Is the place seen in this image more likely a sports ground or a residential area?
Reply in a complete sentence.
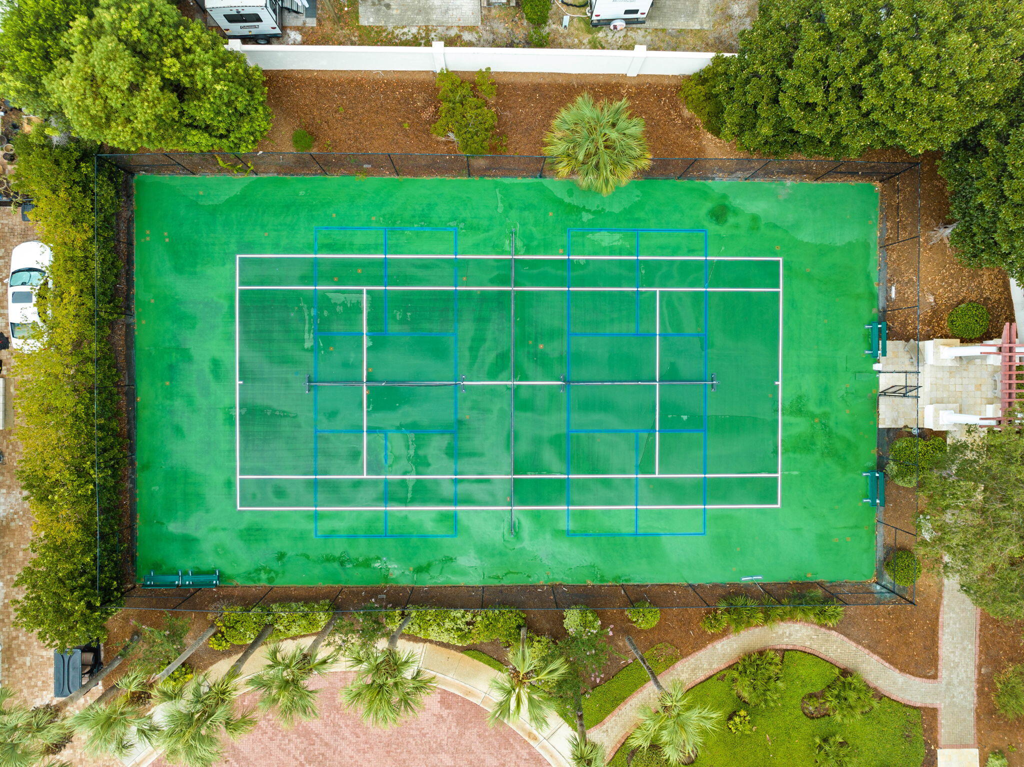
The area seen from above is a sports ground.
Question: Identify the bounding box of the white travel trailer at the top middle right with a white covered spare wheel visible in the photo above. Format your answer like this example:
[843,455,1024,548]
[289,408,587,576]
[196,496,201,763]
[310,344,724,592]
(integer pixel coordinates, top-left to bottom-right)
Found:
[584,0,654,37]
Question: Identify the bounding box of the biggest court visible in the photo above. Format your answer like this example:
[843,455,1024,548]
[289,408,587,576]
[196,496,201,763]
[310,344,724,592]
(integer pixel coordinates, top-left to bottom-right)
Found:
[134,176,879,586]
